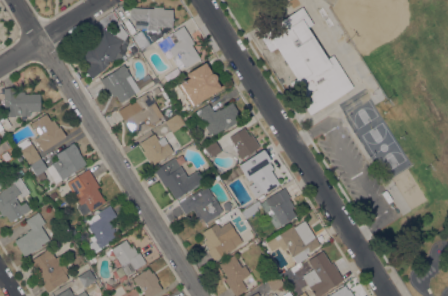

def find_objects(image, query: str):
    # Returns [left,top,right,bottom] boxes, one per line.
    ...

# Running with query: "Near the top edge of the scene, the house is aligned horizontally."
[130,8,174,29]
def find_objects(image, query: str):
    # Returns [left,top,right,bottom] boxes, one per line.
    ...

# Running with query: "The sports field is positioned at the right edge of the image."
[329,0,448,202]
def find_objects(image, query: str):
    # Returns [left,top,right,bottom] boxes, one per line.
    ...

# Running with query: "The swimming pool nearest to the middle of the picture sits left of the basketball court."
[214,156,234,168]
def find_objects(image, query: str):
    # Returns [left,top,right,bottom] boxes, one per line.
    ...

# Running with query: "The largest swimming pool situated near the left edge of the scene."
[14,125,33,142]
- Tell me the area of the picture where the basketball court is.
right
